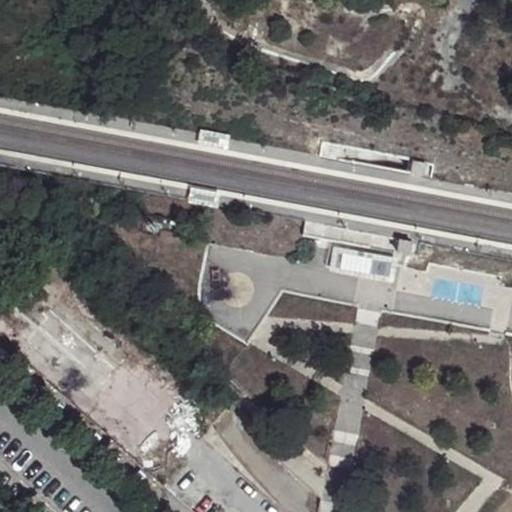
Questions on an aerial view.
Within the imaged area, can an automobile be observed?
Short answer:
Yes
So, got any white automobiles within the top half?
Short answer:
No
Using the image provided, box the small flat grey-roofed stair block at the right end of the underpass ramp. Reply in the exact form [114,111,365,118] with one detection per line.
[410,158,436,176]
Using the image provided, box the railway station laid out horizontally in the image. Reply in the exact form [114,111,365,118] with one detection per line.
[0,96,512,259]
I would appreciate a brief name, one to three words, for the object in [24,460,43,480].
car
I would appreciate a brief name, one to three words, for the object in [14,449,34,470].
car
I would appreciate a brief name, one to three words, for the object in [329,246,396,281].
building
